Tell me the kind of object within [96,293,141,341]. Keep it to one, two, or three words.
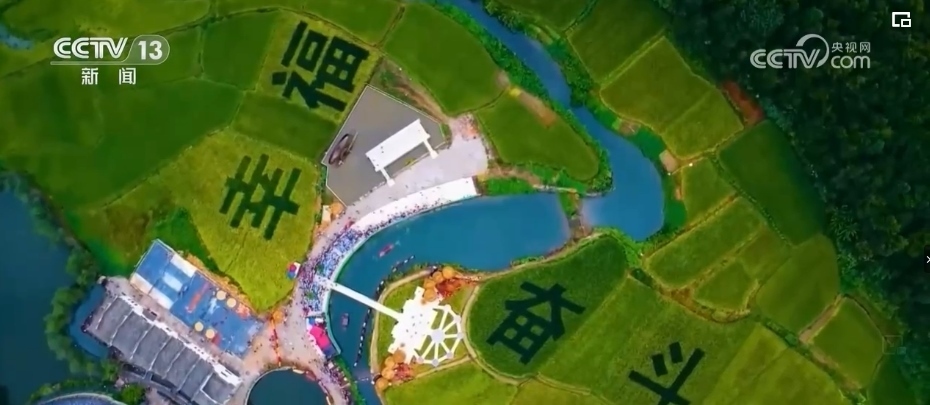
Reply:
house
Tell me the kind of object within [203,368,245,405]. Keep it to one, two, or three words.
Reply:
house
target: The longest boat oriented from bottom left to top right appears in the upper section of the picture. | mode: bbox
[323,129,354,169]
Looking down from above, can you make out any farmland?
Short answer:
Yes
